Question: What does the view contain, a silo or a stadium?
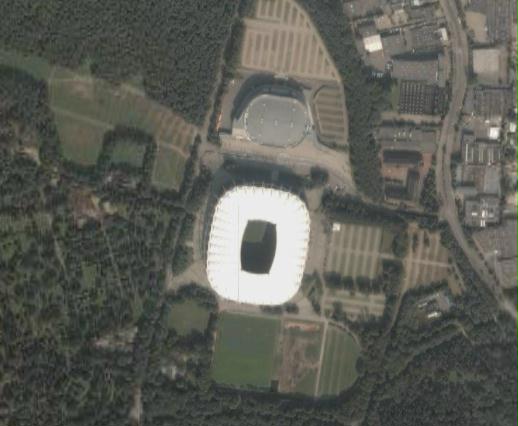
stadium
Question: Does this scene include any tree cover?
Yes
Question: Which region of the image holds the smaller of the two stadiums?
top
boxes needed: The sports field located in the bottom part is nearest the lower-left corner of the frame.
[212,313,280,389]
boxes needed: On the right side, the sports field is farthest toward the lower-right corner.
[319,324,360,396]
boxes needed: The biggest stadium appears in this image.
[204,183,313,309]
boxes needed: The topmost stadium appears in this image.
[233,75,312,148]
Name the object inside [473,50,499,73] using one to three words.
building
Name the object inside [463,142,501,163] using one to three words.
building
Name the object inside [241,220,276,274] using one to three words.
sports field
